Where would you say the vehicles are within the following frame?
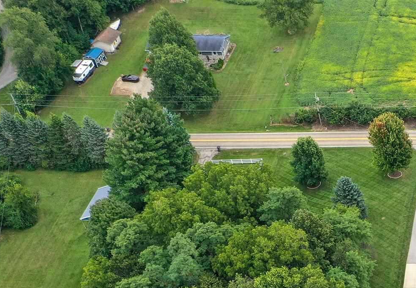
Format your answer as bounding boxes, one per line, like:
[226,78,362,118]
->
[73,58,94,79]
[120,73,139,81]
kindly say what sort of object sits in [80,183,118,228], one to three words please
shed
